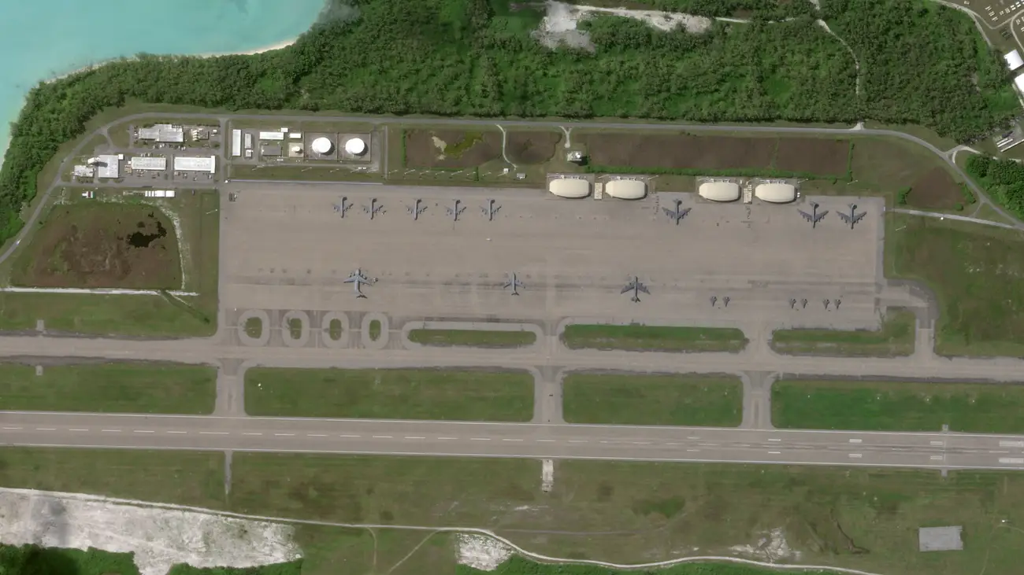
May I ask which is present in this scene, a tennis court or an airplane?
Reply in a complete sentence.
Of the two, only an airplane appears.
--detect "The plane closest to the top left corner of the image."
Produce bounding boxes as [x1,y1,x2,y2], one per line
[332,195,354,218]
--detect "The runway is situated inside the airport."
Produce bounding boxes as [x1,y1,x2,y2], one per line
[0,412,1024,469]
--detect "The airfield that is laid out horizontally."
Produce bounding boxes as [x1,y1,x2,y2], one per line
[0,181,1024,469]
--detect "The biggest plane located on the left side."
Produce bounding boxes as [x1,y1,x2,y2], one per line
[344,269,372,297]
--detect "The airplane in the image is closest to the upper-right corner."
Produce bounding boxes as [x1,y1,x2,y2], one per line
[837,202,868,229]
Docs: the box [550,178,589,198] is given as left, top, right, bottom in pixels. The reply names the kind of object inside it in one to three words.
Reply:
hangar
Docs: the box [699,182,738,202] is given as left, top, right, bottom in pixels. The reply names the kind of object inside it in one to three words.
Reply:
hangar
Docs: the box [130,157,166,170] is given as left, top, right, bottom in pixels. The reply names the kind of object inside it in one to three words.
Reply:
building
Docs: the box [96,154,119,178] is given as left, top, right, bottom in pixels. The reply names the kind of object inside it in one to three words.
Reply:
building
